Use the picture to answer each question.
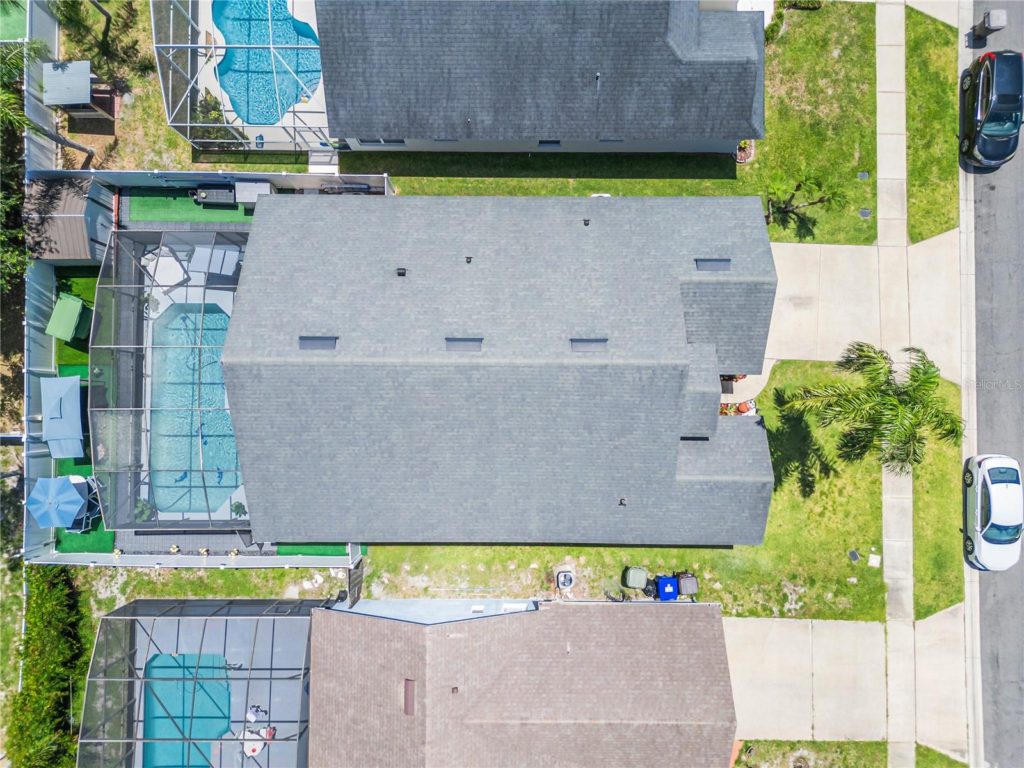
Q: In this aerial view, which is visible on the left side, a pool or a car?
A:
pool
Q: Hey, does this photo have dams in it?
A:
No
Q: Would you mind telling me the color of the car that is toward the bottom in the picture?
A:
white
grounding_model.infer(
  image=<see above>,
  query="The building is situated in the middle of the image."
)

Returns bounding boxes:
[220,195,781,544]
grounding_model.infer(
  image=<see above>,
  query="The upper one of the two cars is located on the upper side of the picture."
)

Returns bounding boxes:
[962,46,1024,173]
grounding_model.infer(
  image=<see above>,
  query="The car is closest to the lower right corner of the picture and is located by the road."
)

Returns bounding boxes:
[964,453,1024,569]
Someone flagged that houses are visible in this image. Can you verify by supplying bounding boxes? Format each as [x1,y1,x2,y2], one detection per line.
[315,0,766,153]
[220,195,781,544]
[311,599,738,768]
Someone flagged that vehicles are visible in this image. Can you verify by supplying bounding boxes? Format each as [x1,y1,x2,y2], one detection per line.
[962,46,1024,173]
[964,453,1024,569]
